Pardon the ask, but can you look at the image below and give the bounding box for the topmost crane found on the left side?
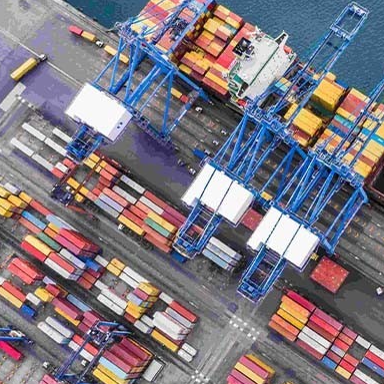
[49,0,209,177]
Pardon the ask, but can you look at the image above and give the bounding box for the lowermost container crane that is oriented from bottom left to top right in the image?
[54,318,139,384]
